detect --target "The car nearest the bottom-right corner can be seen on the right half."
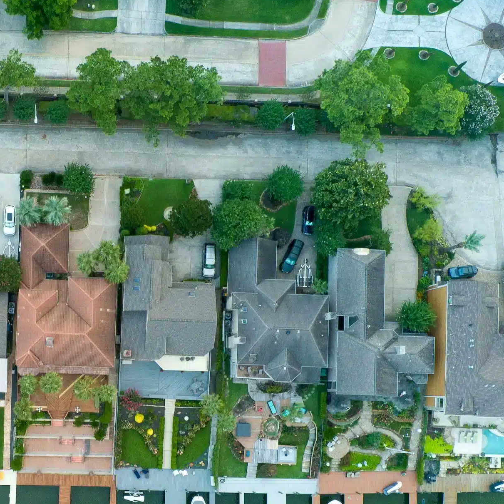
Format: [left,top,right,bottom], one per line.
[447,264,479,279]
